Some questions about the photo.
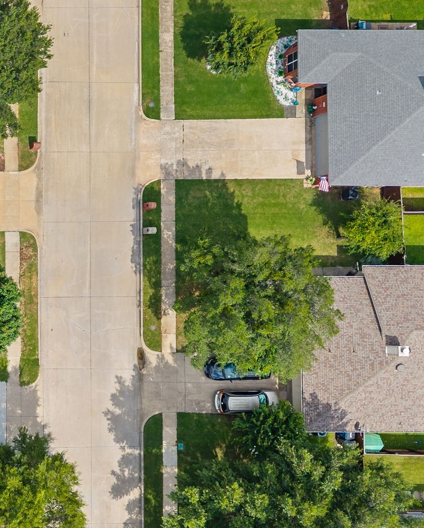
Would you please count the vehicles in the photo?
2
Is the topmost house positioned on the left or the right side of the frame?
right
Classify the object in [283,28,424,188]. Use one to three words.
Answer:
house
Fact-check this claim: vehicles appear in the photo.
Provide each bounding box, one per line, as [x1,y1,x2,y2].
[213,388,277,417]
[202,358,270,385]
